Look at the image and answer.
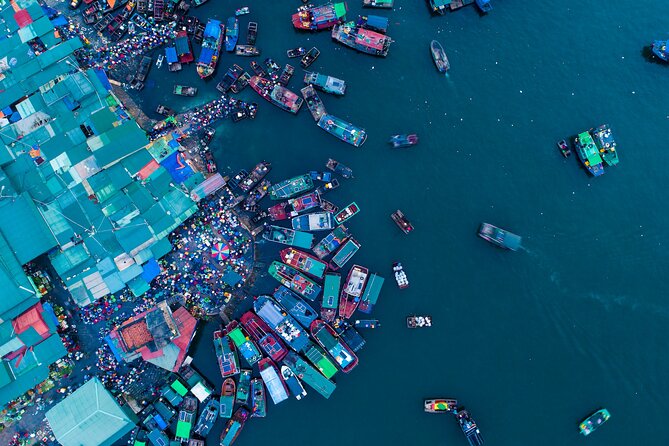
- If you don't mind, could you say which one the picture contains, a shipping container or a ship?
ship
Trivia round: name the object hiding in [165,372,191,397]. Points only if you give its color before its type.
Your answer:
green boat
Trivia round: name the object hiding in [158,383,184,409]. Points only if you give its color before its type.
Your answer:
blue boat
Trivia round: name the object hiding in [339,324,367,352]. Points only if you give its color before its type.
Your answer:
blue ship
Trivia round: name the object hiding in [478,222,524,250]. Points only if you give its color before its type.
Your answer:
blue ship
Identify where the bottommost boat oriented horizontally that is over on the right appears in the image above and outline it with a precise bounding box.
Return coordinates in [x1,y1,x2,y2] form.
[424,397,456,411]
